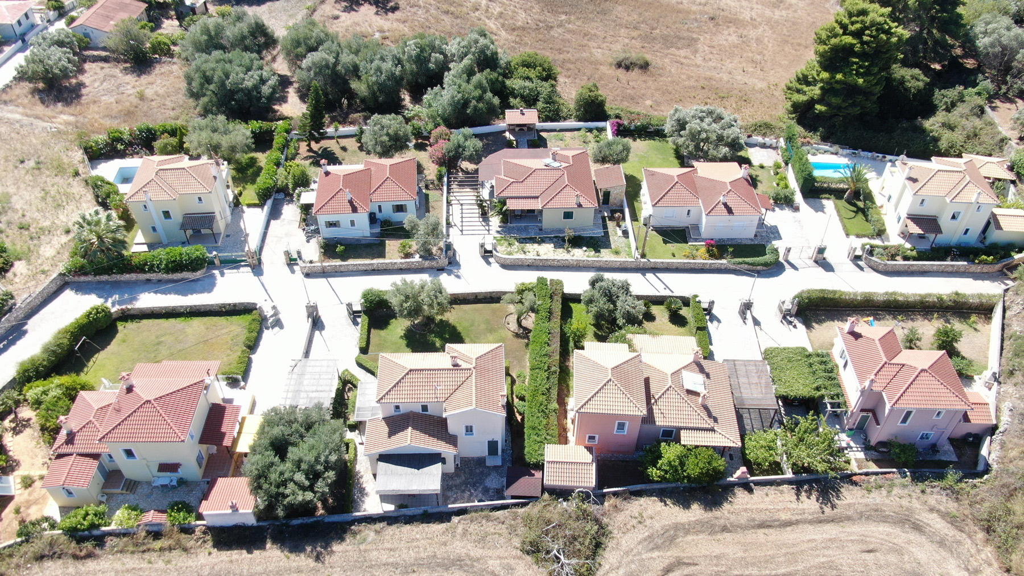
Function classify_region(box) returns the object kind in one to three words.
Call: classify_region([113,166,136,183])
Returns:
swimming pool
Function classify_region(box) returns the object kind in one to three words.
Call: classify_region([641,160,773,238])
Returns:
house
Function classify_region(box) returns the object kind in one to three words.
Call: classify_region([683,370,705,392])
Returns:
solar panel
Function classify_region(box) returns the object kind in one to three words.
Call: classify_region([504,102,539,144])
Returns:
building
